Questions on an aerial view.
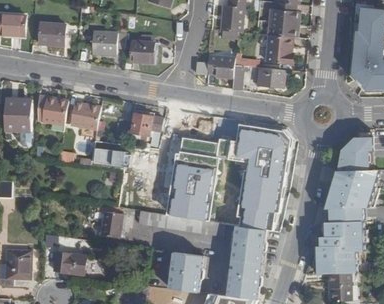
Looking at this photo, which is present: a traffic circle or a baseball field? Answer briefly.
traffic circle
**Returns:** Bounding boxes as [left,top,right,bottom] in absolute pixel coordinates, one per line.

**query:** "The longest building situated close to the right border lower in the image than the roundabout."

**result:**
[316,170,382,303]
